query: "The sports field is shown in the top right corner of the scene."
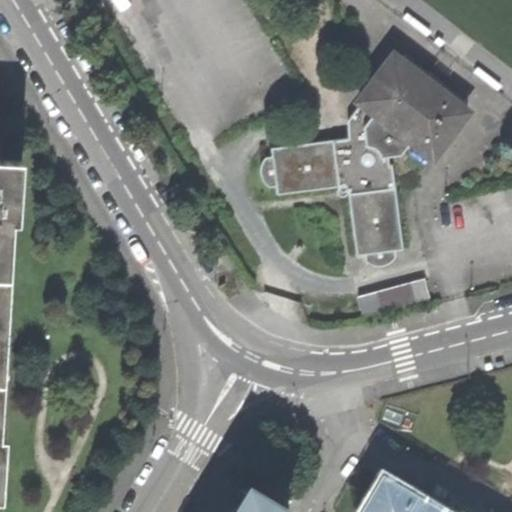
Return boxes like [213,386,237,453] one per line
[422,0,512,68]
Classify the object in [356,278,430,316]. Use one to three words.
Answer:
building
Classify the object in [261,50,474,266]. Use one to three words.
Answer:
building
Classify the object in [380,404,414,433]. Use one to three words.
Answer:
shed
